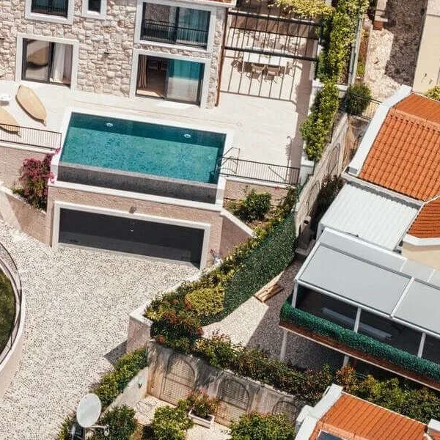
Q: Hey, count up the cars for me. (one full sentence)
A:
I count no cars.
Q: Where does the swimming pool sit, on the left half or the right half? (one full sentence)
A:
The swimming pool appears in the left half of the scene.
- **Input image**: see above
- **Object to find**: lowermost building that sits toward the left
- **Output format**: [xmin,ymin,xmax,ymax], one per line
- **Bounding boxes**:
[48,186,223,264]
